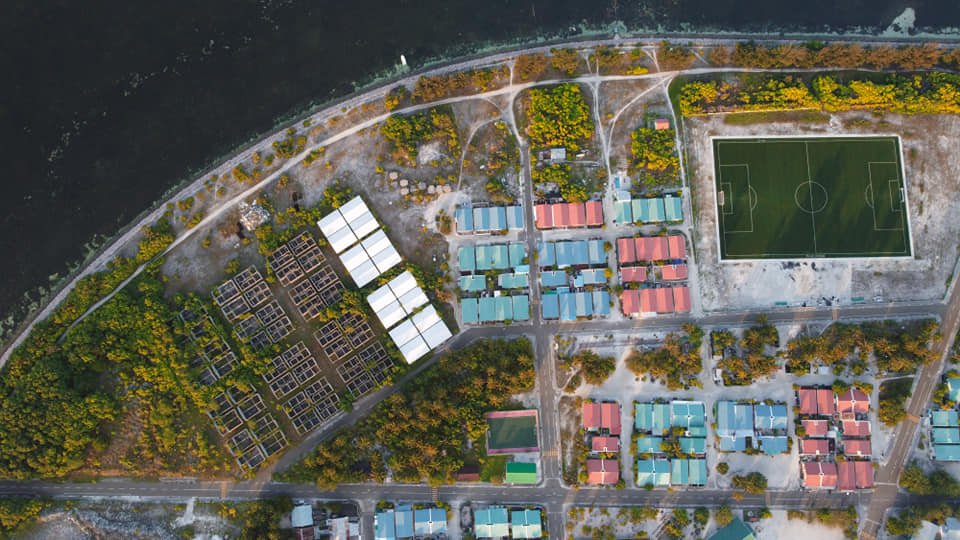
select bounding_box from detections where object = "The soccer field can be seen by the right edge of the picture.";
[710,134,915,262]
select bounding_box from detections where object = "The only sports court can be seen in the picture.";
[487,410,540,456]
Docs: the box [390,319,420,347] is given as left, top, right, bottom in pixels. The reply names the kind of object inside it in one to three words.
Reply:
house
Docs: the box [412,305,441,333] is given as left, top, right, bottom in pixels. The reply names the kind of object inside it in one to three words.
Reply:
house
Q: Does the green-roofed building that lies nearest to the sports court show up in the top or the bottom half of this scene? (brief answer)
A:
bottom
